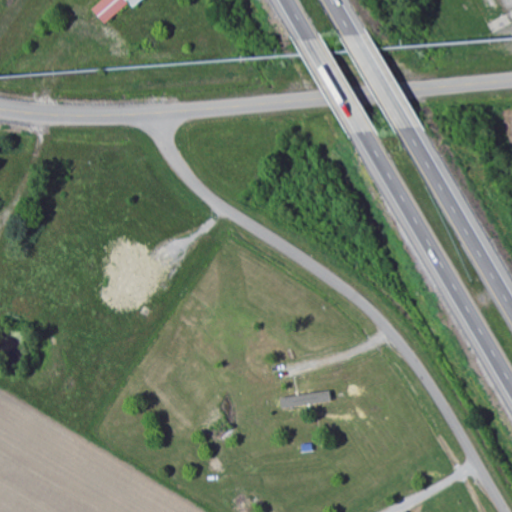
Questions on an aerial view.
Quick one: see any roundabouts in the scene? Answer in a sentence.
No, no roundabout is visible in the scene.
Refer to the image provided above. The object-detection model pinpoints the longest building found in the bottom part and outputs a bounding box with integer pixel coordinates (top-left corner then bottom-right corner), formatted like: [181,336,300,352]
[280,392,332,408]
